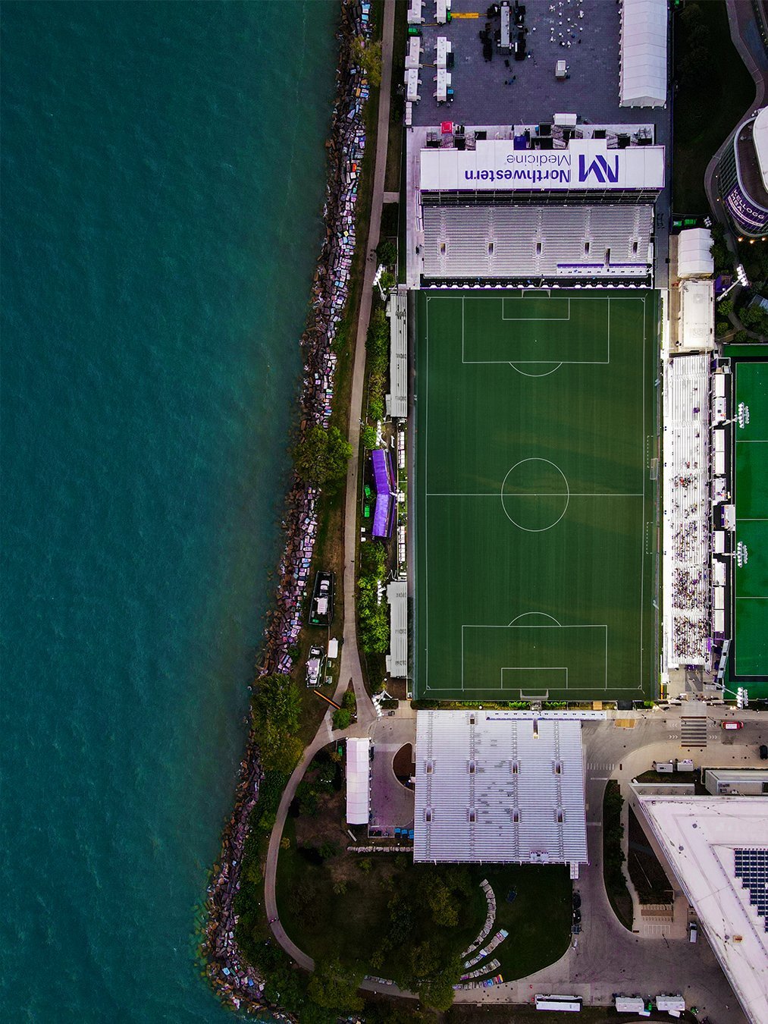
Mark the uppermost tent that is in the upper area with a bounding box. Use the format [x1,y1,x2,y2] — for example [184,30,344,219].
[617,0,668,110]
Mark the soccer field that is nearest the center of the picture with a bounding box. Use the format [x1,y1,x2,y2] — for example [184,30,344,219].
[413,287,657,699]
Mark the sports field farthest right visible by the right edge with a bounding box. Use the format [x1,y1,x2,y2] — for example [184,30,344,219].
[723,347,768,703]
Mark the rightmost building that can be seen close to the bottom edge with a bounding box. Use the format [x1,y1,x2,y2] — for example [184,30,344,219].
[626,779,768,1024]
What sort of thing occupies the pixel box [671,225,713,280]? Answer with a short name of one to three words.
tent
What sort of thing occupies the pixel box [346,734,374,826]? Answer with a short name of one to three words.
tent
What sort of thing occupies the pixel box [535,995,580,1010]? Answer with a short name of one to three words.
vehicle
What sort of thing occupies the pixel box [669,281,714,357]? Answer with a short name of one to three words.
building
